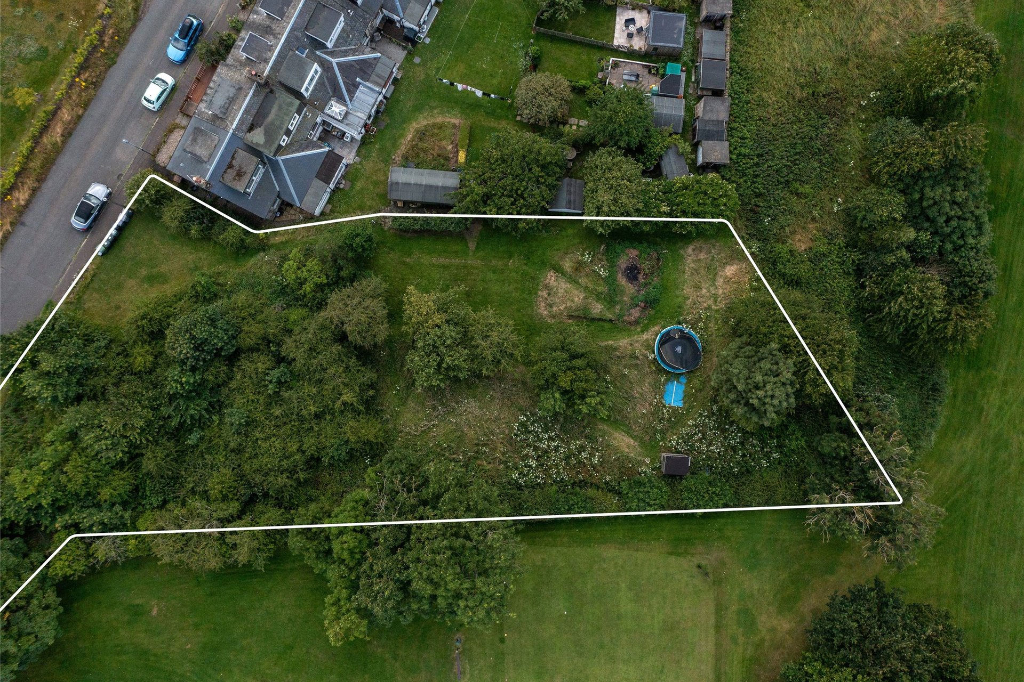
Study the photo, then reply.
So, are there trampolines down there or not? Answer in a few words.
Yes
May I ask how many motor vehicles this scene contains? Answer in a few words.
3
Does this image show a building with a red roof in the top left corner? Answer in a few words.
No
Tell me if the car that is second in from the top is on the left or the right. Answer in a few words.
left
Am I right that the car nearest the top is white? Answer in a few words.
No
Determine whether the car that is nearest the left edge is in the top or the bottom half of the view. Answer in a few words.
top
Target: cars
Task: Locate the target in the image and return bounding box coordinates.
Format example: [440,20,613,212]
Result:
[142,72,177,114]
[72,181,113,234]
[168,14,206,65]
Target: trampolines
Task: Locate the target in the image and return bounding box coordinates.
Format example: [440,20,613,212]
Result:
[654,325,702,373]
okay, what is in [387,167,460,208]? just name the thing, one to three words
shed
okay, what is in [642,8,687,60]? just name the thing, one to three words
shed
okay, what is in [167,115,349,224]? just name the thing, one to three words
house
